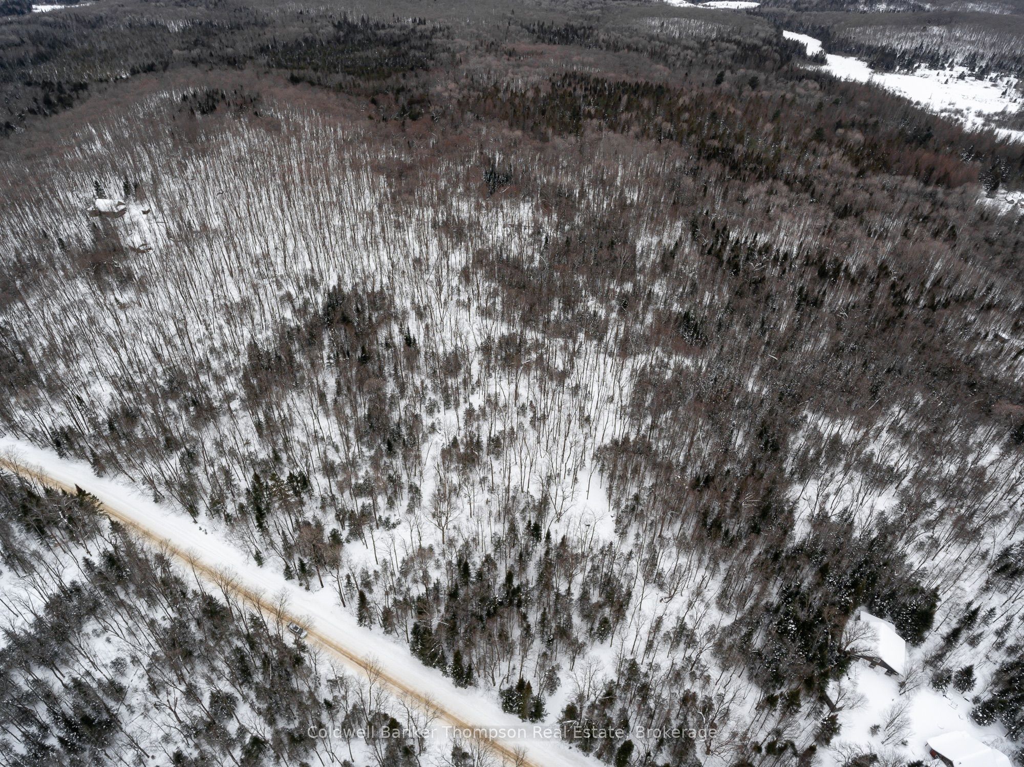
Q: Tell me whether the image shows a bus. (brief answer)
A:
No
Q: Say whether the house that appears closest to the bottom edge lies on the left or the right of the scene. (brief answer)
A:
right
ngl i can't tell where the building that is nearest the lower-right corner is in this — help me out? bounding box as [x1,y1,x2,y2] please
[929,730,1019,767]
